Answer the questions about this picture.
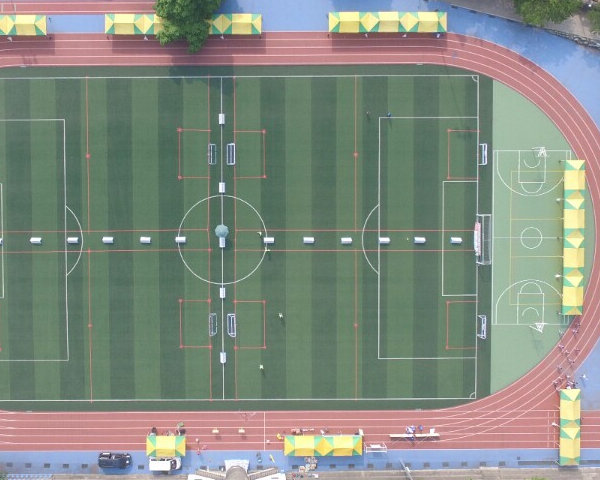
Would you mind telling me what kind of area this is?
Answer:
sports ground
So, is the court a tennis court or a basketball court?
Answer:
basketball court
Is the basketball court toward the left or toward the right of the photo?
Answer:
right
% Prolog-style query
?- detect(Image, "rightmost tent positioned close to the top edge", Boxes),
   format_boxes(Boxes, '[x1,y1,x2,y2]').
[405,11,447,36]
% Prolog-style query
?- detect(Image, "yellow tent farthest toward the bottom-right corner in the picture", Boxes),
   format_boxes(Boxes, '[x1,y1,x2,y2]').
[553,424,579,466]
